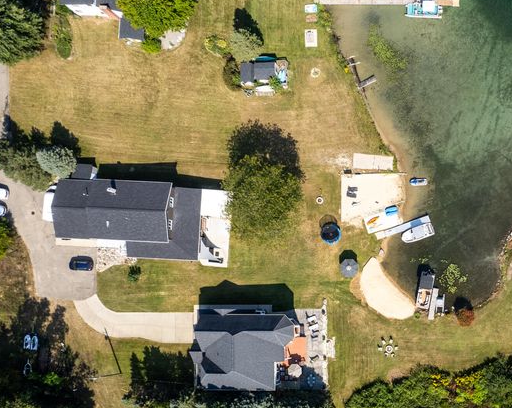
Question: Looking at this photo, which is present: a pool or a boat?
boat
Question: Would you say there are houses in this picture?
Yes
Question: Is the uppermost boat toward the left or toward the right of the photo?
right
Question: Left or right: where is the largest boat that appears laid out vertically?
right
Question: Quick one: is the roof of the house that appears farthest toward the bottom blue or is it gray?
gray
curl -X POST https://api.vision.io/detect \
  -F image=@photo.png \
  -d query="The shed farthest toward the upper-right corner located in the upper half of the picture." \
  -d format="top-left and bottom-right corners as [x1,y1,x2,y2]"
[240,60,288,97]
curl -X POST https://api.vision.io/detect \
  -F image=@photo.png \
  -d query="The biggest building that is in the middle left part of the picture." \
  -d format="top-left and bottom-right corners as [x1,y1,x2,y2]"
[52,164,205,260]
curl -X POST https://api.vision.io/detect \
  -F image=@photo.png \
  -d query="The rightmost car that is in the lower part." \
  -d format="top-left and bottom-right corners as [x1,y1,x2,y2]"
[69,256,96,270]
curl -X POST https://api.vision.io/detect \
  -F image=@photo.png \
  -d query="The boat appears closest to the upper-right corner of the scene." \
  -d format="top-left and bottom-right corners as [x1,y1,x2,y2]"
[406,0,445,20]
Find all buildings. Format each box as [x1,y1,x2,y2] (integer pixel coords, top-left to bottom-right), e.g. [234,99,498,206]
[240,60,288,97]
[189,305,302,391]
[52,164,205,260]
[58,0,149,43]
